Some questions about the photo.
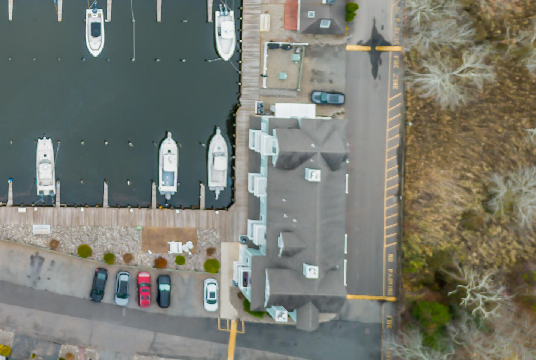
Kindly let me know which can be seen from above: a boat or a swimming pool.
boat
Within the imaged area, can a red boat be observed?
No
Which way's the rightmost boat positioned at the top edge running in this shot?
vertically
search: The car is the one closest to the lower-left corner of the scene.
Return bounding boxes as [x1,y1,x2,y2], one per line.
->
[90,268,108,303]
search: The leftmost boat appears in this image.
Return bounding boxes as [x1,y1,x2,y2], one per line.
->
[36,134,55,204]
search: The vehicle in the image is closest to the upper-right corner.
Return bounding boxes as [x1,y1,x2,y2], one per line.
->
[311,90,346,105]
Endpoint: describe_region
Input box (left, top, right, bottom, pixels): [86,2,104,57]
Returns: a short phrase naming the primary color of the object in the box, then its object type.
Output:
white boat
